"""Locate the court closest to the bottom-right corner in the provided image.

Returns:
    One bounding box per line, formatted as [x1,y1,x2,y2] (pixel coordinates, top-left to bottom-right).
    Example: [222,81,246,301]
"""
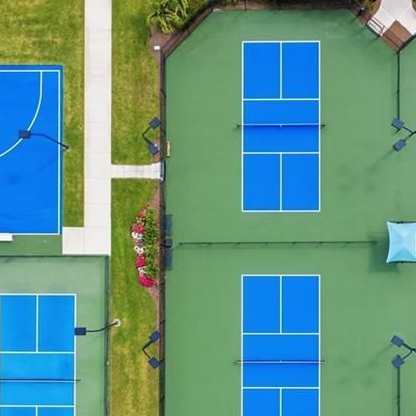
[242,275,320,416]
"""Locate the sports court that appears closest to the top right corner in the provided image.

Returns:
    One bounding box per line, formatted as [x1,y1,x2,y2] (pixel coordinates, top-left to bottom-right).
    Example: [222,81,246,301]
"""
[242,41,320,212]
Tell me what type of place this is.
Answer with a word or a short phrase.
sports ground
